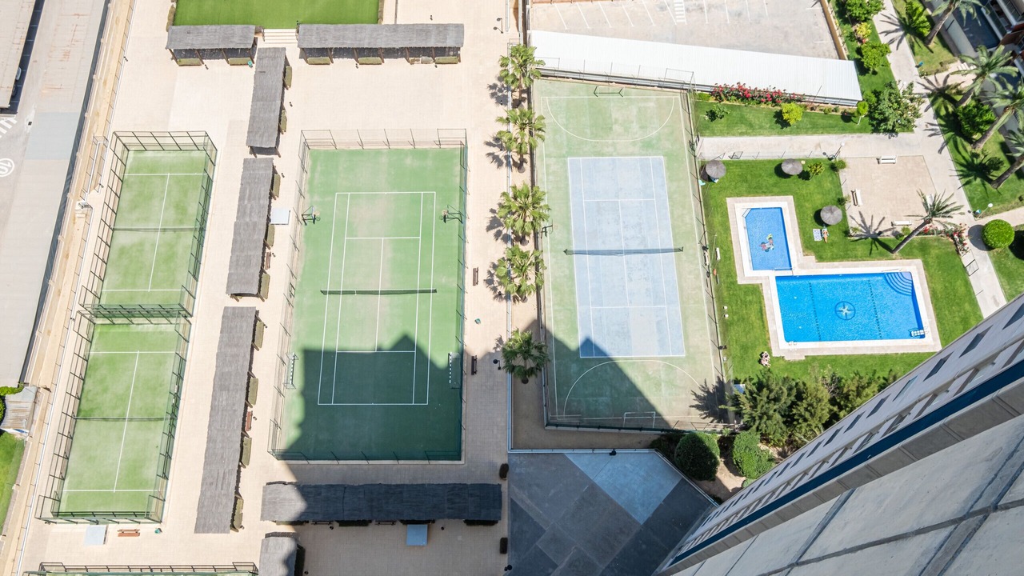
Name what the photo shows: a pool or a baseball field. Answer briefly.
pool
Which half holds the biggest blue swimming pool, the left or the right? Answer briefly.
right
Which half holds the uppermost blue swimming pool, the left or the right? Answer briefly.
right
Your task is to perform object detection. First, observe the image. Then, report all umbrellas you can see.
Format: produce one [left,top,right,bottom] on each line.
[779,158,802,178]
[702,160,725,180]
[817,206,841,227]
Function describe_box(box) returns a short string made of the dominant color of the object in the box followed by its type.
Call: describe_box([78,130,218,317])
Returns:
green sports court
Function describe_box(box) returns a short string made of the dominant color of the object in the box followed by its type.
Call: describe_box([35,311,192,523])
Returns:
green sports court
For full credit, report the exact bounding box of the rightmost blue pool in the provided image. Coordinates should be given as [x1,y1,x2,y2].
[777,266,933,347]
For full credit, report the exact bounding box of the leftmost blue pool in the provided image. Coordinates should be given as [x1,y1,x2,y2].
[746,207,793,269]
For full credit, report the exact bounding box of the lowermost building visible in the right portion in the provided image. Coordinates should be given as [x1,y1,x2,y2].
[654,292,1024,576]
